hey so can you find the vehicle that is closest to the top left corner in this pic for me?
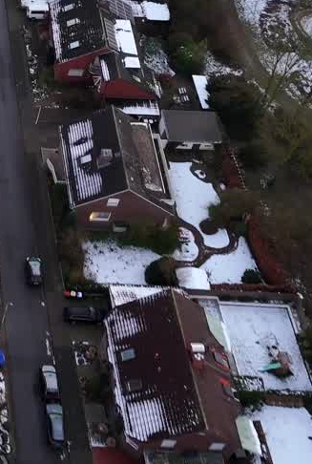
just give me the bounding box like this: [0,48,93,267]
[14,1,56,20]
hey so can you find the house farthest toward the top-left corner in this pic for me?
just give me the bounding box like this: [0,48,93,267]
[47,0,137,87]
